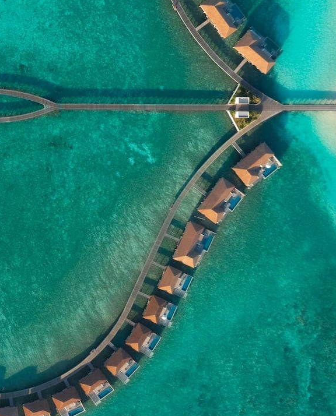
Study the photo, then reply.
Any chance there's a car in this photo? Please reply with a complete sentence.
No, there is no car in the image.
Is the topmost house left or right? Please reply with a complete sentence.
The topmost house is on the right side of the image.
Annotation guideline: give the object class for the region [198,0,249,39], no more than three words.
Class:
house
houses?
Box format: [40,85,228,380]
[141,294,179,328]
[157,266,194,300]
[51,385,87,416]
[125,323,162,358]
[0,407,18,416]
[79,368,115,406]
[171,221,219,270]
[104,346,142,384]
[23,398,51,416]
[198,0,249,39]
[231,26,285,74]
[196,178,247,227]
[229,142,282,190]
